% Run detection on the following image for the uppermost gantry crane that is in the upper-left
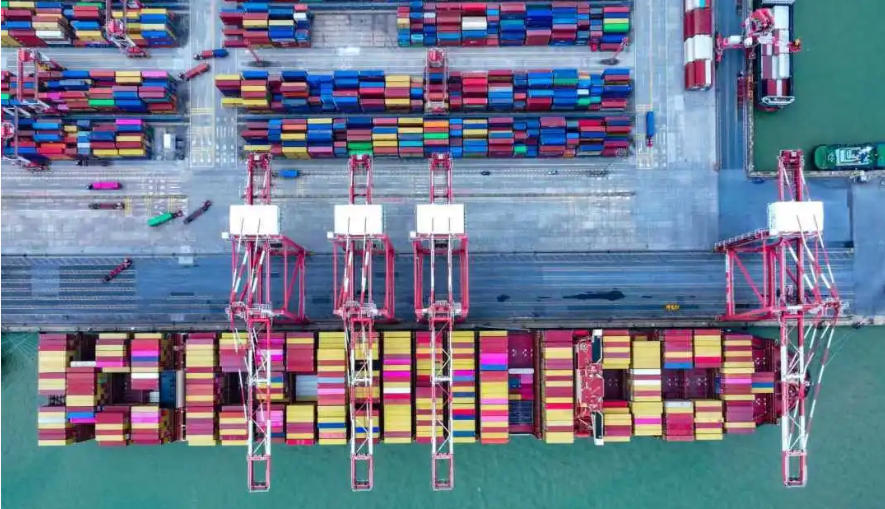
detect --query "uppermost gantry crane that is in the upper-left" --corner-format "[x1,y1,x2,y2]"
[103,0,150,53]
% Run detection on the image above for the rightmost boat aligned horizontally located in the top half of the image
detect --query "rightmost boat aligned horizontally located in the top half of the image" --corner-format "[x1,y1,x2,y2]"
[812,145,874,170]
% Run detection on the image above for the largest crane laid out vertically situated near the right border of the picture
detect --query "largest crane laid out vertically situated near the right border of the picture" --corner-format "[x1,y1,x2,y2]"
[714,152,849,492]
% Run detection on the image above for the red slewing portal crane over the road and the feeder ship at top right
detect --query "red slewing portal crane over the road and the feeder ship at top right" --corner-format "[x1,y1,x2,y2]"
[716,9,800,60]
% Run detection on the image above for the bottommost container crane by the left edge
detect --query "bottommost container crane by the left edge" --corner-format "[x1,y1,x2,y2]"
[0,99,46,165]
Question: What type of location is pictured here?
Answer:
port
